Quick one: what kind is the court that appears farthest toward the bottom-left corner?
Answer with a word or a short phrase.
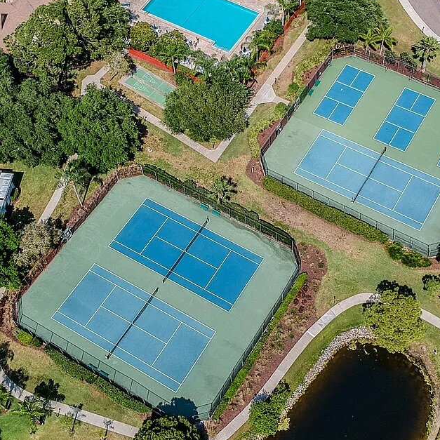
tennis court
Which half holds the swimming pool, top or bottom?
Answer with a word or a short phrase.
top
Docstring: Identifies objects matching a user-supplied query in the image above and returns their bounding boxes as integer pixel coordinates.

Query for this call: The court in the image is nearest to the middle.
[108,198,265,313]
